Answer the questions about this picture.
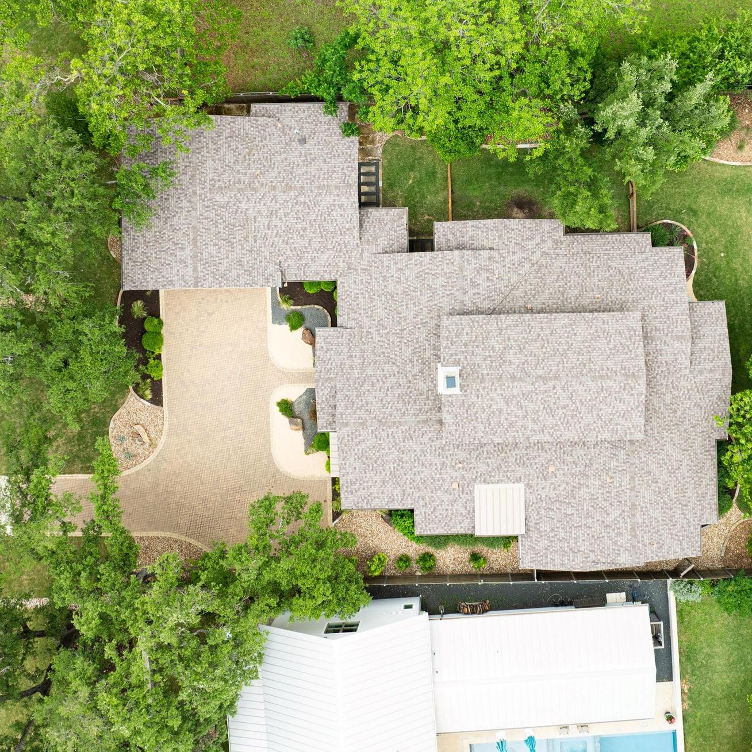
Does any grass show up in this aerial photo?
Yes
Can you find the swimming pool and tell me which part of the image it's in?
bottom right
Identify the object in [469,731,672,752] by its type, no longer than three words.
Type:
swimming pool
